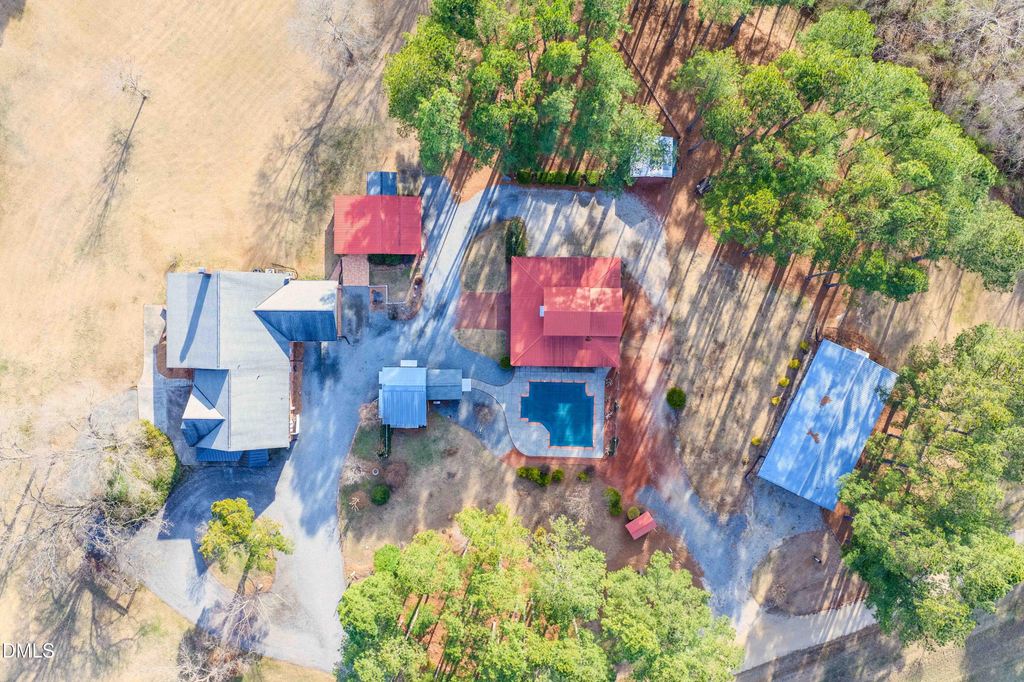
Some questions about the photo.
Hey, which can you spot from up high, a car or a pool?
pool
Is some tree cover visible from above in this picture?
Yes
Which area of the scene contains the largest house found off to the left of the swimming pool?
left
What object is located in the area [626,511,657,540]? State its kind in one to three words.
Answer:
shed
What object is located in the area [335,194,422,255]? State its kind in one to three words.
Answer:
building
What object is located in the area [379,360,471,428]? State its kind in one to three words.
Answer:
shed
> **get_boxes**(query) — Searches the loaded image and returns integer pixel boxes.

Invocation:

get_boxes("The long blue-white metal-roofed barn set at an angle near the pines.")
[753,339,896,511]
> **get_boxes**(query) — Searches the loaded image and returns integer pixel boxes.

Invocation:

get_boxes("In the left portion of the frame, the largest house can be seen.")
[166,268,342,468]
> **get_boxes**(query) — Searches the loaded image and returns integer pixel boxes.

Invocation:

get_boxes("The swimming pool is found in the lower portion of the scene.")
[518,380,596,450]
